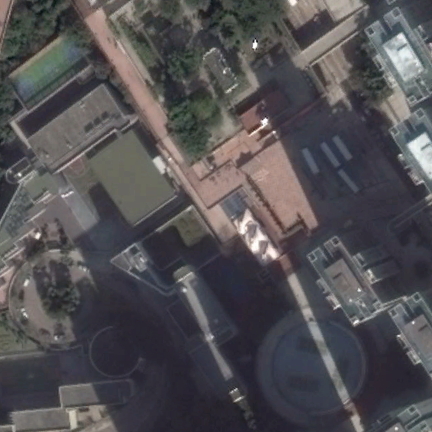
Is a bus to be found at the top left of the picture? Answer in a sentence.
No, there's no bus to be seen at the top left of the picture.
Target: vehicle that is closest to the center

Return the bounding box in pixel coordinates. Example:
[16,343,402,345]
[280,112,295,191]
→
[301,146,319,174]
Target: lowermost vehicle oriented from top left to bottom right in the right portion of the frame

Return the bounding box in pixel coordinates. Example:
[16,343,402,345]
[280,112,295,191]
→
[336,167,359,193]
